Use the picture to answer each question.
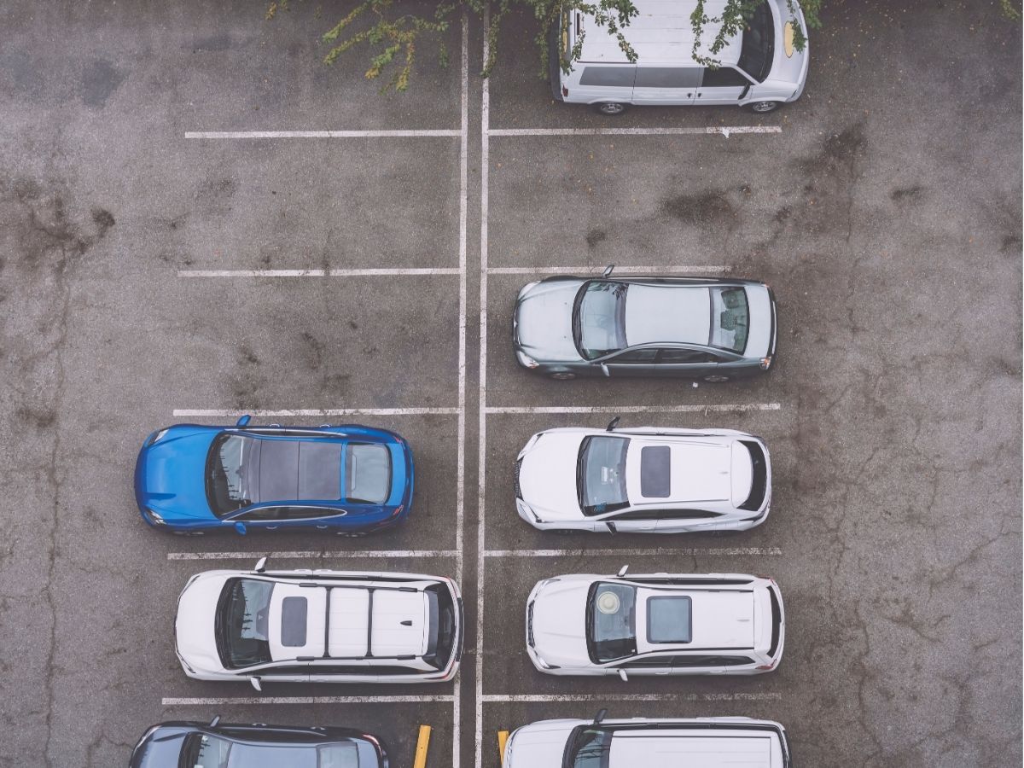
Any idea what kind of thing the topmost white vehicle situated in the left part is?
automobile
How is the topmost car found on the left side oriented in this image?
horizontally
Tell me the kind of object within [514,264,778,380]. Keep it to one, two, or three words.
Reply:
car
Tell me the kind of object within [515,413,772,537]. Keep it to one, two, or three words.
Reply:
car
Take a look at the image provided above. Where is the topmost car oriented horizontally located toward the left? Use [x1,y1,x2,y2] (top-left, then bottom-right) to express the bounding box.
[136,413,415,537]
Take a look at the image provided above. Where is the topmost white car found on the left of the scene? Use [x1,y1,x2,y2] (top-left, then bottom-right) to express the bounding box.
[173,560,463,688]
